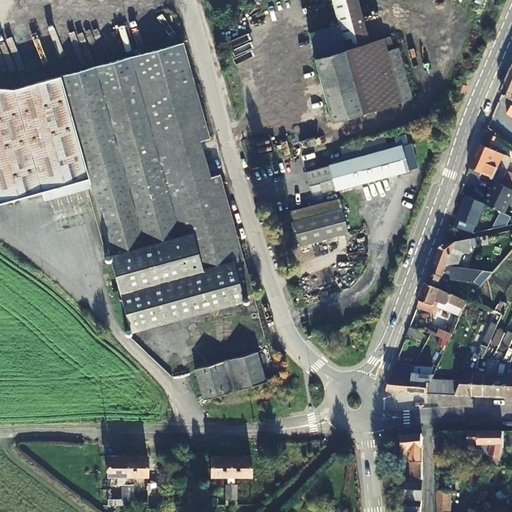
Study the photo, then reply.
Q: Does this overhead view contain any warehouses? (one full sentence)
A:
Yes, you can see a warehouse in this photo.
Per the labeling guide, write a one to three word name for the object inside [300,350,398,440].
roundabout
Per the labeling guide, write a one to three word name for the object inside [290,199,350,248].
building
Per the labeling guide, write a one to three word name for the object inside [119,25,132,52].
vehicle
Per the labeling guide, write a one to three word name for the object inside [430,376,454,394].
house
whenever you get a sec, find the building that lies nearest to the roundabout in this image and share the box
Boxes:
[386,378,428,398]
